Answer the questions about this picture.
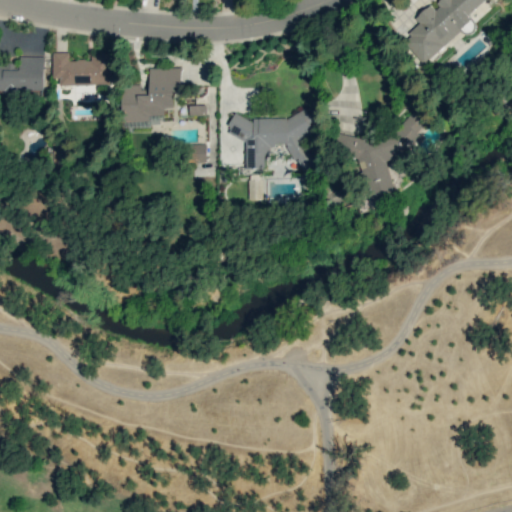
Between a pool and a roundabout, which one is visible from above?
pool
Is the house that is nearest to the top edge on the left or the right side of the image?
right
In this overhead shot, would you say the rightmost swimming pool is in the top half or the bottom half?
top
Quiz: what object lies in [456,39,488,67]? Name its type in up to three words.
swimming pool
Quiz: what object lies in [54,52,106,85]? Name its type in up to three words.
house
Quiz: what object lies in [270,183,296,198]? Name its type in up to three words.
swimming pool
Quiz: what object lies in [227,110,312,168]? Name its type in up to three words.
house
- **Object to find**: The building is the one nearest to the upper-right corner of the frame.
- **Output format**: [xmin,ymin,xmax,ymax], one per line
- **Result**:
[404,0,485,61]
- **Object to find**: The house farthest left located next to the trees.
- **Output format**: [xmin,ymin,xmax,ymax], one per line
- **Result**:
[0,57,44,95]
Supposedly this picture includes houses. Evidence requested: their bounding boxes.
[227,110,312,168]
[338,114,424,196]
[0,57,44,95]
[120,67,182,123]
[54,52,106,85]
[404,0,485,61]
